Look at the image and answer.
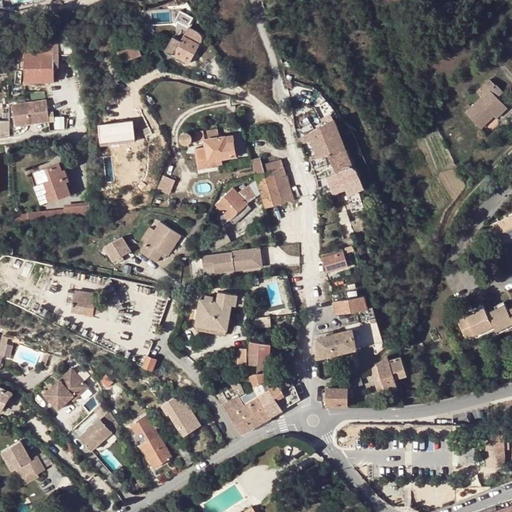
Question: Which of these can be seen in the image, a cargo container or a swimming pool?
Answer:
swimming pool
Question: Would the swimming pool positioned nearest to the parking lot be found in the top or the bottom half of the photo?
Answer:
bottom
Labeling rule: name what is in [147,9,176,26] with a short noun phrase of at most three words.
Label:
swimming pool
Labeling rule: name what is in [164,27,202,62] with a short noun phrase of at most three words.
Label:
house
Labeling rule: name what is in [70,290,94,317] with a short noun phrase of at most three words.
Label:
building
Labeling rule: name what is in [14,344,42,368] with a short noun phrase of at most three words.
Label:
swimming pool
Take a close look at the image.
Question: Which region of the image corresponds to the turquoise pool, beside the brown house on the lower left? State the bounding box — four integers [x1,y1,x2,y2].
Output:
[98,447,124,472]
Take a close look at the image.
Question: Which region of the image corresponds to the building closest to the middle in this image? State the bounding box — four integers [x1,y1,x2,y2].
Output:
[232,248,264,272]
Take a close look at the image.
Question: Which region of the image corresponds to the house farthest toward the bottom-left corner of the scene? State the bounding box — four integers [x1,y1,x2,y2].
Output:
[0,442,44,486]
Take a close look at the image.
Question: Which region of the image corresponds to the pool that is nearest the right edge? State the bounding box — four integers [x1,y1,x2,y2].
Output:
[258,276,292,316]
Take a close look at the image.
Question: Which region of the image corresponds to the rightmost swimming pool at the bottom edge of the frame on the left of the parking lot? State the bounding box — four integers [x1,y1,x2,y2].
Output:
[199,466,276,512]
